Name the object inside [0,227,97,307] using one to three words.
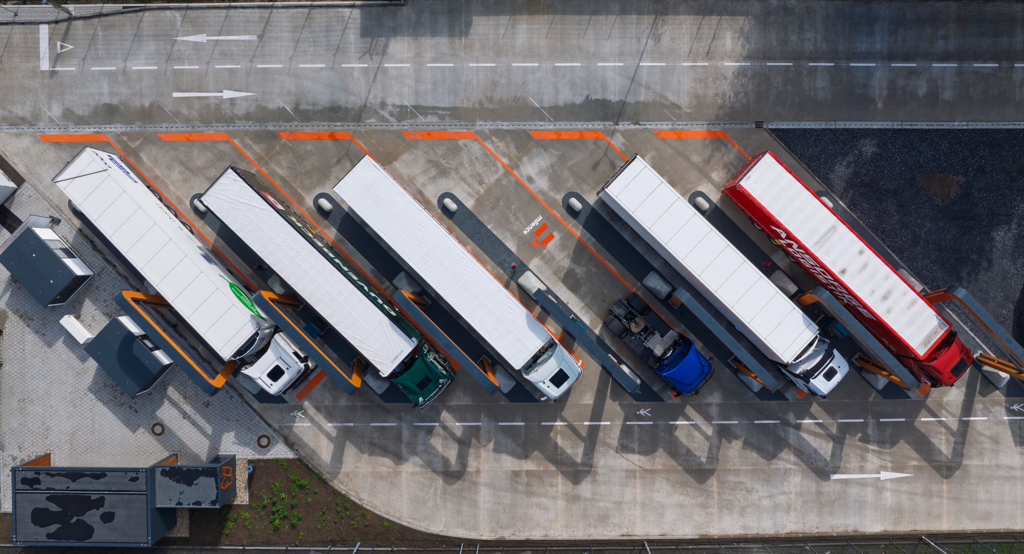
shed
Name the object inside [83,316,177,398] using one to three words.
shed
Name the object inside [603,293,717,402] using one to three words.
truck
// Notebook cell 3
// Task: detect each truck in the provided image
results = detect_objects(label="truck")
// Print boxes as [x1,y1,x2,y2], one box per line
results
[603,293,717,402]
[333,154,589,407]
[719,150,977,393]
[198,165,456,414]
[53,146,318,401]
[595,156,854,403]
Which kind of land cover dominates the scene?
paved ground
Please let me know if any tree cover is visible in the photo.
No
